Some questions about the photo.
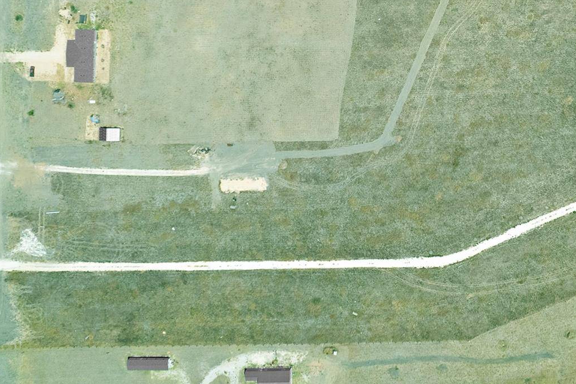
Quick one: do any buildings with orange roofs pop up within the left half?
No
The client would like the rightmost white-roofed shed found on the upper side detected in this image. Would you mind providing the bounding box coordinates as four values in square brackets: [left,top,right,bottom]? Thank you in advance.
[99,127,123,142]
